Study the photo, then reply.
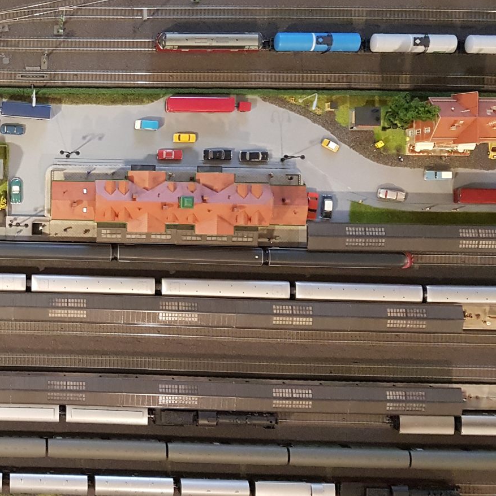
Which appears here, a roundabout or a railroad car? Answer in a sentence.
Looking from above, you can make out a railroad car.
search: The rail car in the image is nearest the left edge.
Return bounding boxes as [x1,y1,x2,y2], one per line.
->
[0,241,114,261]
